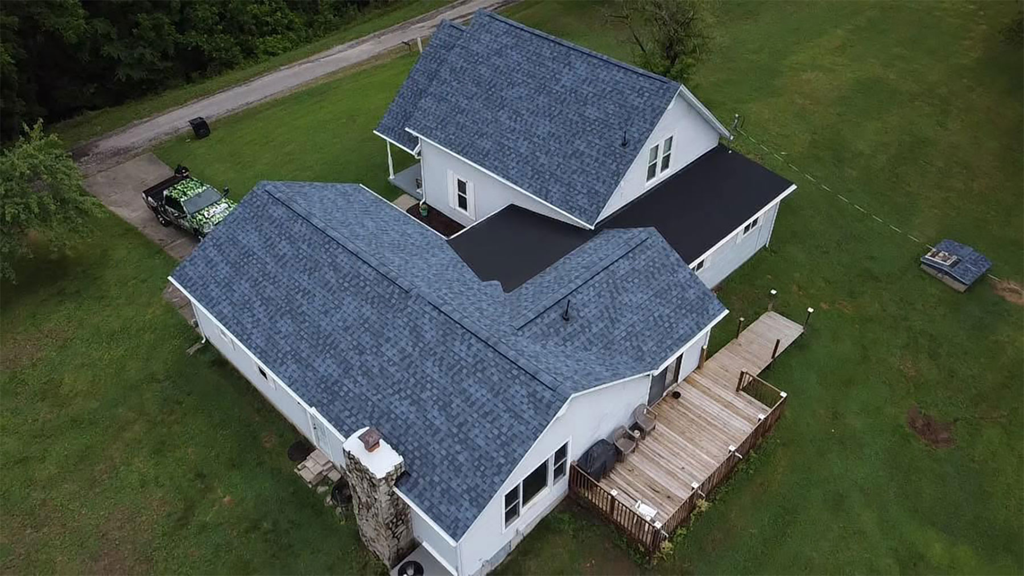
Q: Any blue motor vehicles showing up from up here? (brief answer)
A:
No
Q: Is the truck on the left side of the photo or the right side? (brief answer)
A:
left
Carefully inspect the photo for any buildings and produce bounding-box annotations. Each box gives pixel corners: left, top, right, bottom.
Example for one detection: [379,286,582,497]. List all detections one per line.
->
[914,241,995,294]
[164,8,800,576]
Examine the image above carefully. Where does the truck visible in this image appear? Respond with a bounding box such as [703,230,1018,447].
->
[139,178,233,244]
